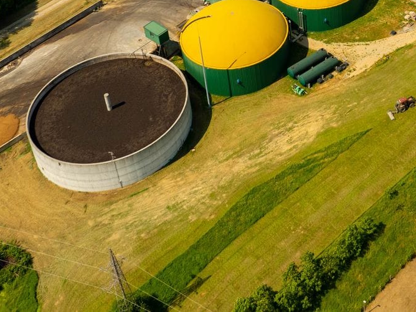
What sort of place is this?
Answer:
industrial area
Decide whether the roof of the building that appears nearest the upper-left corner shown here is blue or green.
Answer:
green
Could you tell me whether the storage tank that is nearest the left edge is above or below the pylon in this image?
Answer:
above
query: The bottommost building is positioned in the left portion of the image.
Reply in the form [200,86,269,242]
[132,25,173,56]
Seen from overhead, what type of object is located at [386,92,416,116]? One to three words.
work vehicle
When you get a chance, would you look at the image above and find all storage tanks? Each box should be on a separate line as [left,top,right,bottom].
[302,57,338,88]
[291,48,328,77]
[270,0,367,34]
[25,47,193,192]
[179,0,292,95]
